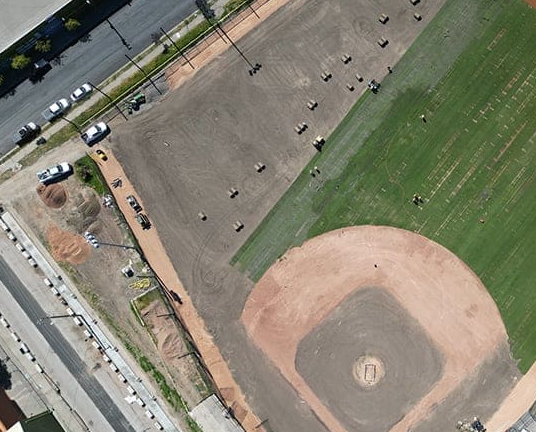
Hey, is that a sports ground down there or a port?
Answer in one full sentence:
This looks like a sports ground.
